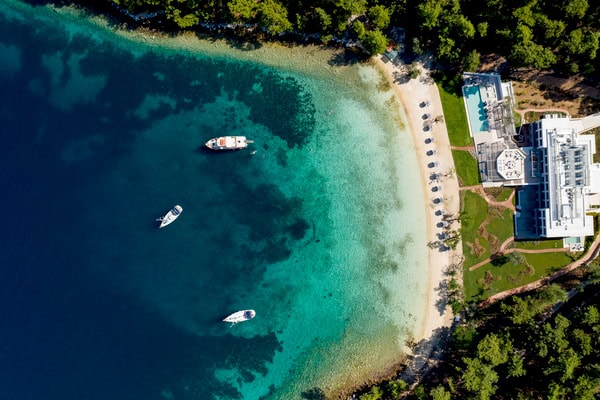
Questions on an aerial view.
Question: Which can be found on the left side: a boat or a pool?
boat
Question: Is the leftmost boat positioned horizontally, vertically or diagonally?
diagonally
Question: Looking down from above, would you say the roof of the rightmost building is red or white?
white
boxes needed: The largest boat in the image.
[204,135,254,149]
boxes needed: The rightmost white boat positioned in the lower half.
[222,309,257,330]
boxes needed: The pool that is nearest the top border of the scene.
[462,83,514,147]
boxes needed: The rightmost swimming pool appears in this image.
[562,237,584,252]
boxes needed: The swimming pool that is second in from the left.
[514,187,544,238]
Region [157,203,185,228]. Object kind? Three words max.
boat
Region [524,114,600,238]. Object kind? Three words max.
building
